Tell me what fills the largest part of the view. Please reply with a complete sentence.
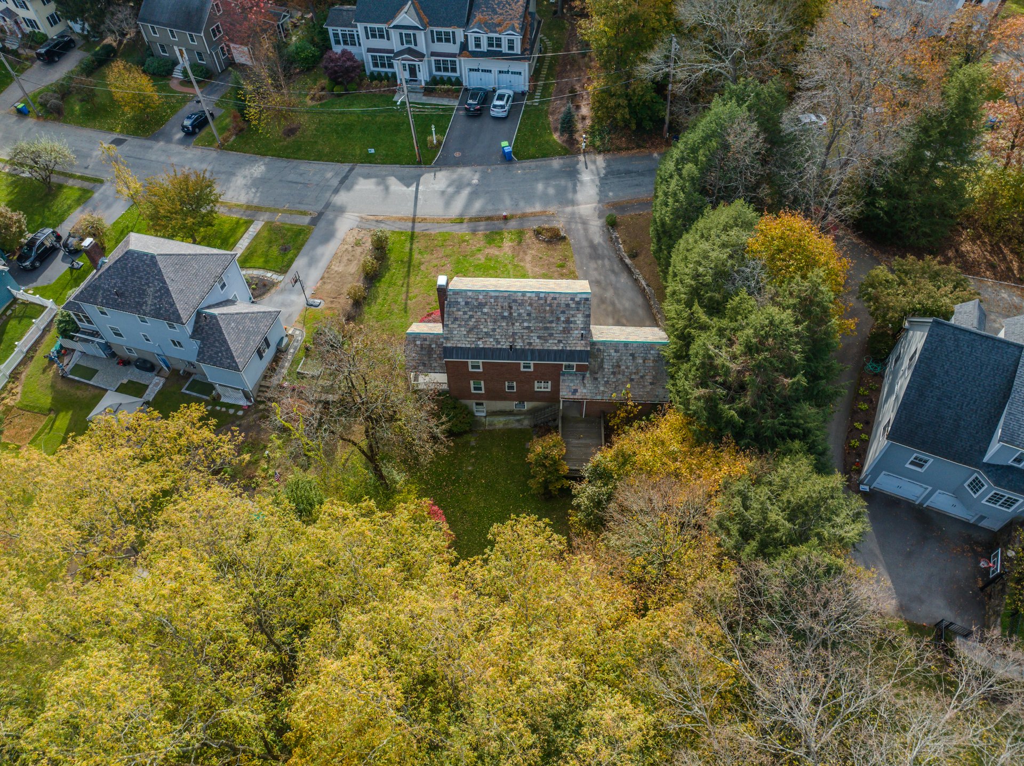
For the most part, this view shows trees.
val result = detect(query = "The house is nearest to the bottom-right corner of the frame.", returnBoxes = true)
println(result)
[859,298,1024,541]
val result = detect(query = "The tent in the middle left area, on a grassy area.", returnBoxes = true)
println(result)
[85,389,153,441]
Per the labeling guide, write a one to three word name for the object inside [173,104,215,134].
car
